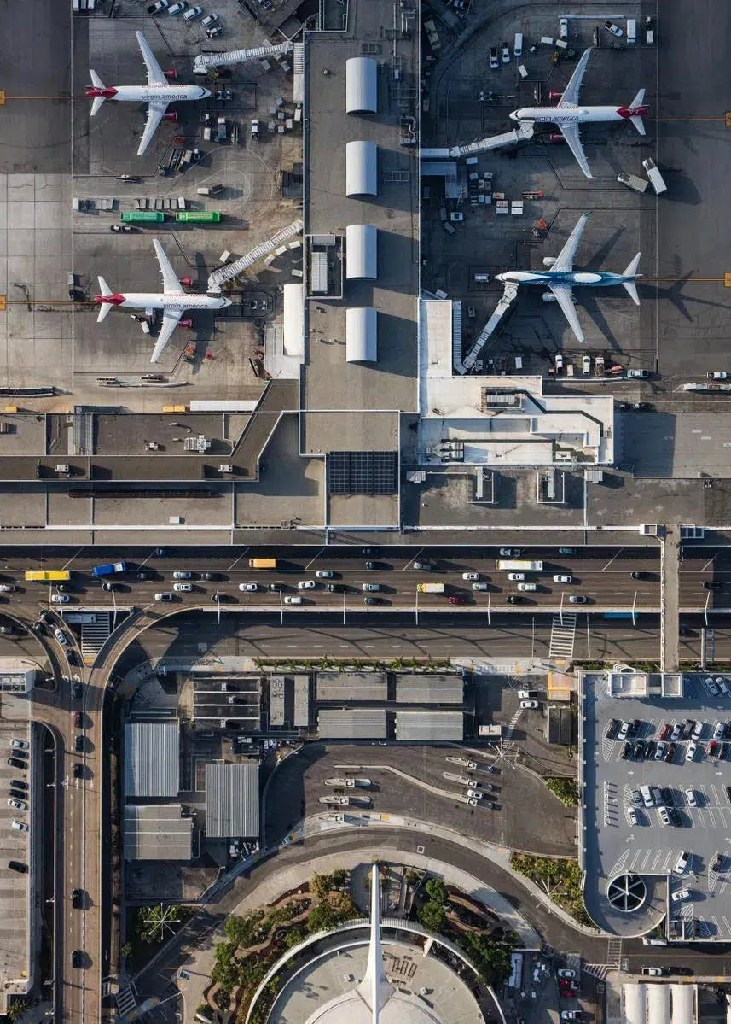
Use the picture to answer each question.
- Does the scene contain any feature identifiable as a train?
No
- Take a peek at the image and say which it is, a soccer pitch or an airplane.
airplane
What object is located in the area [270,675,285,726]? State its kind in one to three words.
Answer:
building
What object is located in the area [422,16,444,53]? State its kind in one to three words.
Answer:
truck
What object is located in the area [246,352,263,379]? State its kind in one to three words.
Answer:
work vehicle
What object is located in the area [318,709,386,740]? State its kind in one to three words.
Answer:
shed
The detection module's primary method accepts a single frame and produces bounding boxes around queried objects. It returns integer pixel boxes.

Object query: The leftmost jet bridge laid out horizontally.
[196,40,293,78]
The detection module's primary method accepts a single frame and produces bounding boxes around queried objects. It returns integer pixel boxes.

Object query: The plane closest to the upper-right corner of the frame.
[509,43,652,177]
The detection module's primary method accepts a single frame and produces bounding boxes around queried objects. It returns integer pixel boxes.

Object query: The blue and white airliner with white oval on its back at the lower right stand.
[495,210,646,340]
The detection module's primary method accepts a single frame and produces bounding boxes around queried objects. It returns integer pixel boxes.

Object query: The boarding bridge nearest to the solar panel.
[454,280,520,376]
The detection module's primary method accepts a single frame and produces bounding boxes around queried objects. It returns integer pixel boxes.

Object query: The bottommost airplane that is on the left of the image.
[91,238,231,364]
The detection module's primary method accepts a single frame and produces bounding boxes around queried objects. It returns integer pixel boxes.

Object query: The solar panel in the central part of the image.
[329,451,397,496]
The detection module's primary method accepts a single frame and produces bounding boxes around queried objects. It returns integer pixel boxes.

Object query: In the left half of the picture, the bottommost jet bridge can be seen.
[209,222,303,297]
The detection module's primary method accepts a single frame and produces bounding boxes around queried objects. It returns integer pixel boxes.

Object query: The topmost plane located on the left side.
[83,28,211,154]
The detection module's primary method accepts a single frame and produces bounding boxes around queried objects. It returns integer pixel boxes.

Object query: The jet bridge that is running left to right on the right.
[420,119,535,161]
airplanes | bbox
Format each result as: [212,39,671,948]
[509,43,652,177]
[91,238,231,364]
[83,28,211,154]
[495,210,646,340]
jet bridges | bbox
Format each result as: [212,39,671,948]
[196,40,293,78]
[420,119,535,161]
[209,222,303,297]
[454,280,520,376]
